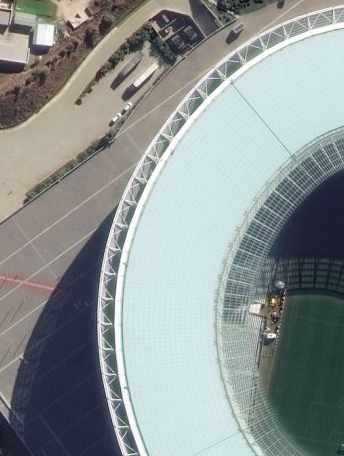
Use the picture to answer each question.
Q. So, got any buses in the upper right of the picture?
No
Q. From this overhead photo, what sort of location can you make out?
sports ground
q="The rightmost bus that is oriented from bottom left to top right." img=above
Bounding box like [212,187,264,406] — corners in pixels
[133,62,158,87]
